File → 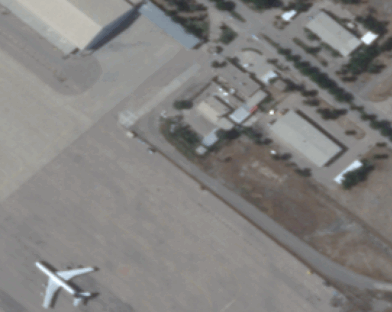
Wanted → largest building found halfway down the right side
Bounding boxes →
[271,110,343,166]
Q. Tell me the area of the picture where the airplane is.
bottom left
